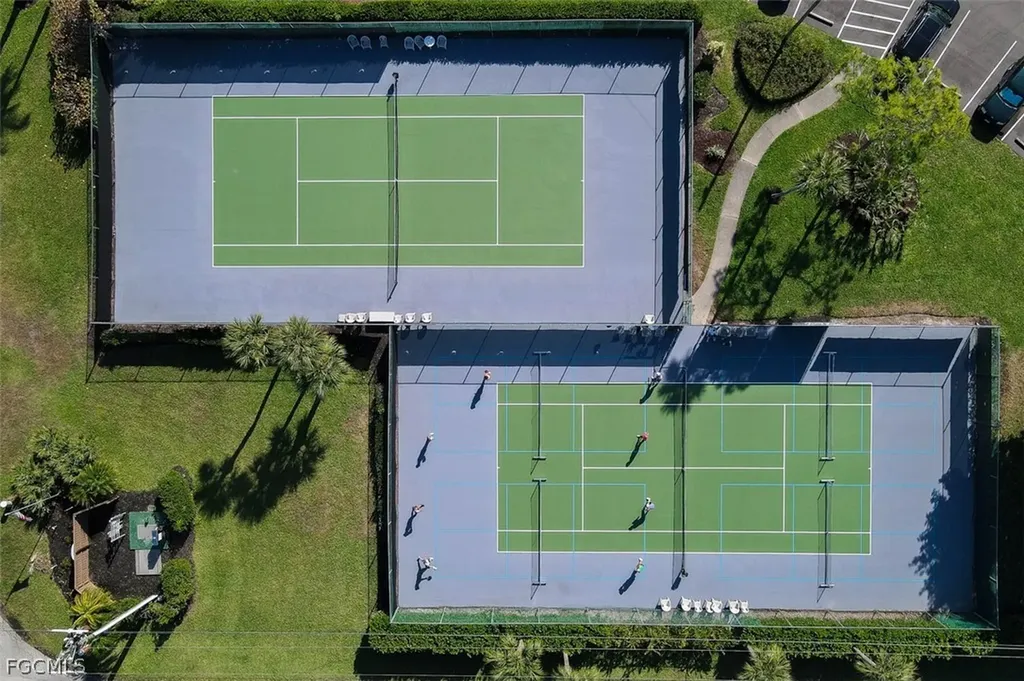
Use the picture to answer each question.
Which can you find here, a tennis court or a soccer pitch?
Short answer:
tennis court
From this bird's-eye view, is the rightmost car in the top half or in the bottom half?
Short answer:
top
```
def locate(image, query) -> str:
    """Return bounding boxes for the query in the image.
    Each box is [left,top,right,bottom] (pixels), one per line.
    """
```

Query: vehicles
[979,56,1024,130]
[893,0,961,67]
